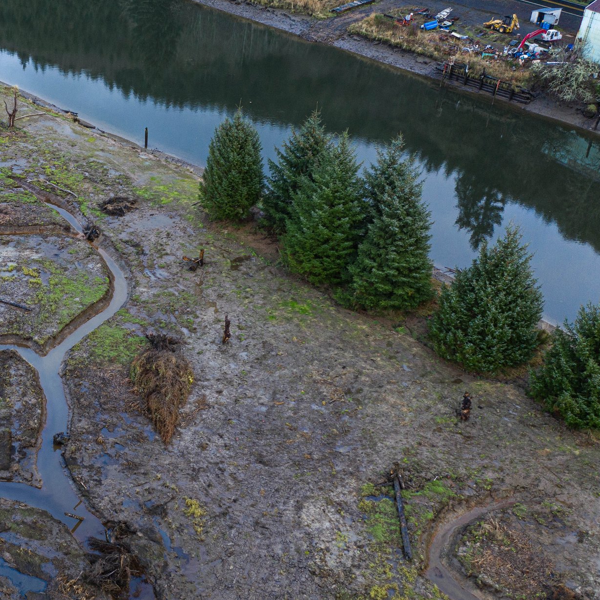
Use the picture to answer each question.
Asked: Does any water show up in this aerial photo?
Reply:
Yes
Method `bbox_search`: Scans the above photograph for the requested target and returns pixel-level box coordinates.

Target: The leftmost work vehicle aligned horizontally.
[476,6,529,30]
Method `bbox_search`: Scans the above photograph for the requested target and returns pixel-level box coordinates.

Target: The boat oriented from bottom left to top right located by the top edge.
[434,4,452,18]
